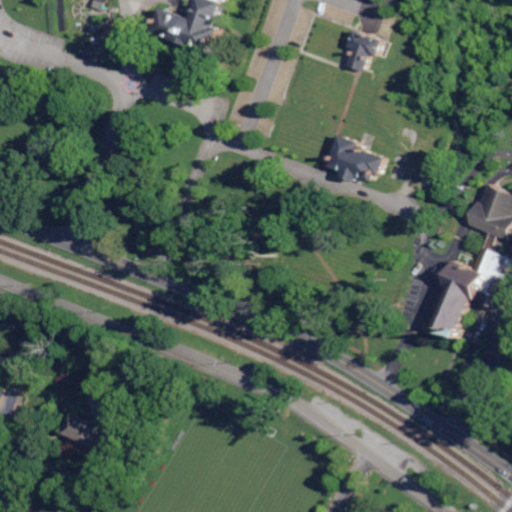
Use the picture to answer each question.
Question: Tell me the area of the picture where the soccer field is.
bottom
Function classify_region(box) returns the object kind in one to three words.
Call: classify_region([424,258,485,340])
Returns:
building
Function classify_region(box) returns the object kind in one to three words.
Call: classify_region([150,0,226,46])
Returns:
house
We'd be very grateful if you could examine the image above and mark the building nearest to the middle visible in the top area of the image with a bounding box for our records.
[326,138,391,182]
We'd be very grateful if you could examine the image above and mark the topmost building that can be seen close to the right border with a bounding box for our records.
[468,186,512,236]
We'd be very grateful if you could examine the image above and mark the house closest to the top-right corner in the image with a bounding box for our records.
[346,30,396,71]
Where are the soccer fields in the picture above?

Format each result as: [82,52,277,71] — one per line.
[137,404,324,512]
